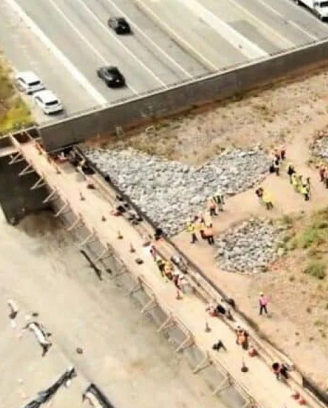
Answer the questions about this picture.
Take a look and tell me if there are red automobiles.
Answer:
No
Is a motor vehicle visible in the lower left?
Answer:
No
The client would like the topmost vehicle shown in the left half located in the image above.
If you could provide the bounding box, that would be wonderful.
[106,15,131,34]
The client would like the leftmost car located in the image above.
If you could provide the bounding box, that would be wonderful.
[12,66,40,91]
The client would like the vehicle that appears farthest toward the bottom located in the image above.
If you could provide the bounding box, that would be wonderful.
[33,87,62,113]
